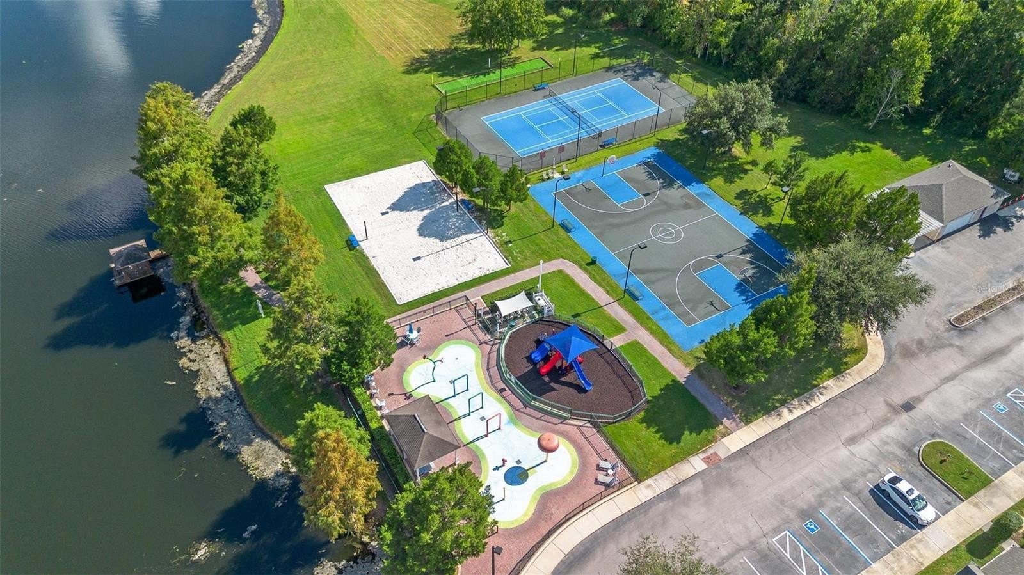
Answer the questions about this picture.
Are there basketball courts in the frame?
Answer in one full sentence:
Yes, the picture does show a basketball court.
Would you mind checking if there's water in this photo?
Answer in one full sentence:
Yes, water shows up in the scene.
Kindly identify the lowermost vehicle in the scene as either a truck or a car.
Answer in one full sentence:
The lowermost vehicle can be classified as a car.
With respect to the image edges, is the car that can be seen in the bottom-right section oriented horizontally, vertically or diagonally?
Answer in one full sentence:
The car that can be seen in the bottom-right section is laid out diagonally.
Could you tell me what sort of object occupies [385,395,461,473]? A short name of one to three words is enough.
building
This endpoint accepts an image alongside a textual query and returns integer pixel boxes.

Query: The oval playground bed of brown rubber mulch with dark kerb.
[502,318,644,417]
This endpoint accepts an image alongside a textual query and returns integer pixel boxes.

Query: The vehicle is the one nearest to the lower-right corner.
[875,465,936,521]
